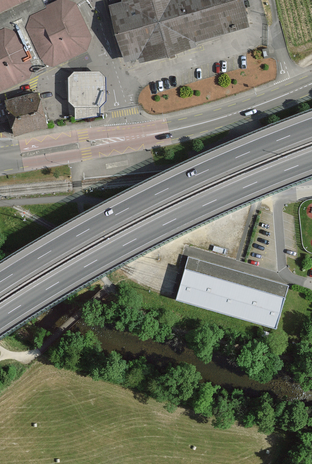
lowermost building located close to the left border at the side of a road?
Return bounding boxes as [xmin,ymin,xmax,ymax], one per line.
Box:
[5,92,48,136]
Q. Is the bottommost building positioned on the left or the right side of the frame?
right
